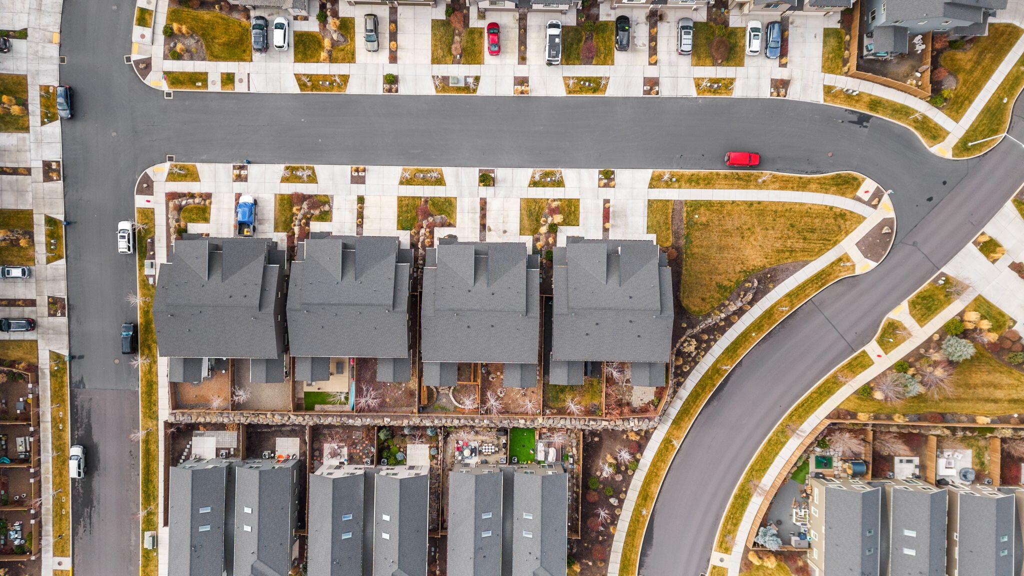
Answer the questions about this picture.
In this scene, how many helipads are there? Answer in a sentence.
I count no helipads.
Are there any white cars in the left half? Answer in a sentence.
Yes, the scene does show a white car in the left half.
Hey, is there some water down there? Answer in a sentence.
No, there's no water in this view.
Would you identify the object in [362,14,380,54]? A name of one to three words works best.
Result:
car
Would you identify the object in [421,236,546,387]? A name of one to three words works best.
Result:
house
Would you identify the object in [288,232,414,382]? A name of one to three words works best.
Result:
house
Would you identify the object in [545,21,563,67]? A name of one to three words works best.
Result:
vehicle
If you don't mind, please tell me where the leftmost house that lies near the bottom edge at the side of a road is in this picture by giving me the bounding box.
[167,457,299,576]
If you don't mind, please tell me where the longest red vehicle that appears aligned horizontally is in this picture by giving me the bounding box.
[725,151,761,168]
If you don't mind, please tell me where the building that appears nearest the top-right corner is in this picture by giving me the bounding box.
[864,0,1006,58]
